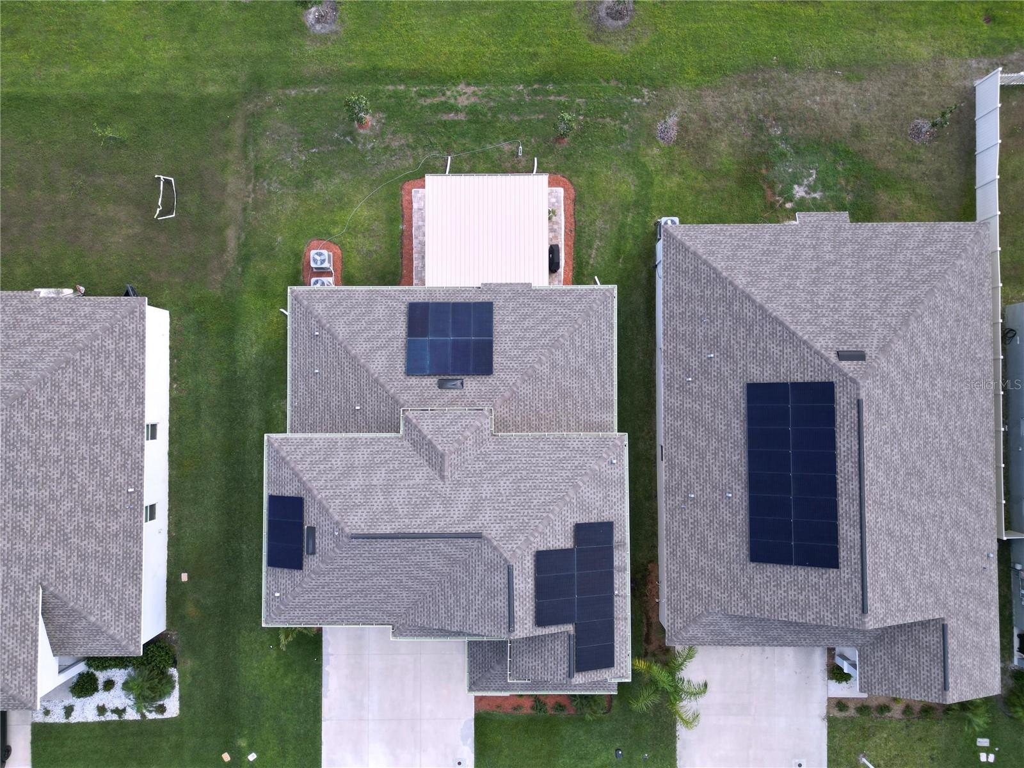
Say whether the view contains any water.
No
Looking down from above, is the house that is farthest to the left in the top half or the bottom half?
bottom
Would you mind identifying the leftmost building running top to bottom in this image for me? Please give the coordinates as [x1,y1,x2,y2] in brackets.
[0,291,169,711]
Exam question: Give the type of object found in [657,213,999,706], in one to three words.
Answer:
house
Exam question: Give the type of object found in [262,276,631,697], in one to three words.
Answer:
house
